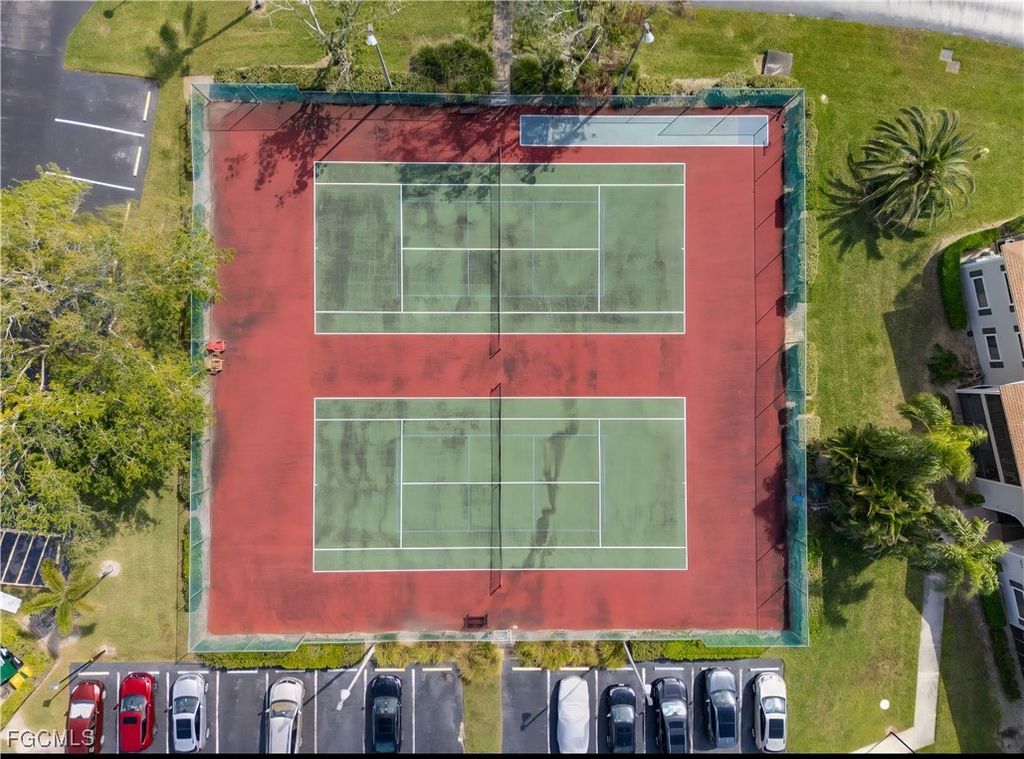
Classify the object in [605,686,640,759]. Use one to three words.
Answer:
car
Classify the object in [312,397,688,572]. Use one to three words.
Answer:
tennis court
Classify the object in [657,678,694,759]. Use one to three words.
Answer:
car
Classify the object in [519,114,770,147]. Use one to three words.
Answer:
sports court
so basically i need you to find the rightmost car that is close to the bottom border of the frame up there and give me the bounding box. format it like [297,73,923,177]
[753,671,793,751]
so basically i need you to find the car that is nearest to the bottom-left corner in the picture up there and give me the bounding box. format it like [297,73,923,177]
[63,680,105,759]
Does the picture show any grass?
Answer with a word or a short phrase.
Yes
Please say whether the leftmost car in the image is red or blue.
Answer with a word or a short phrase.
red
